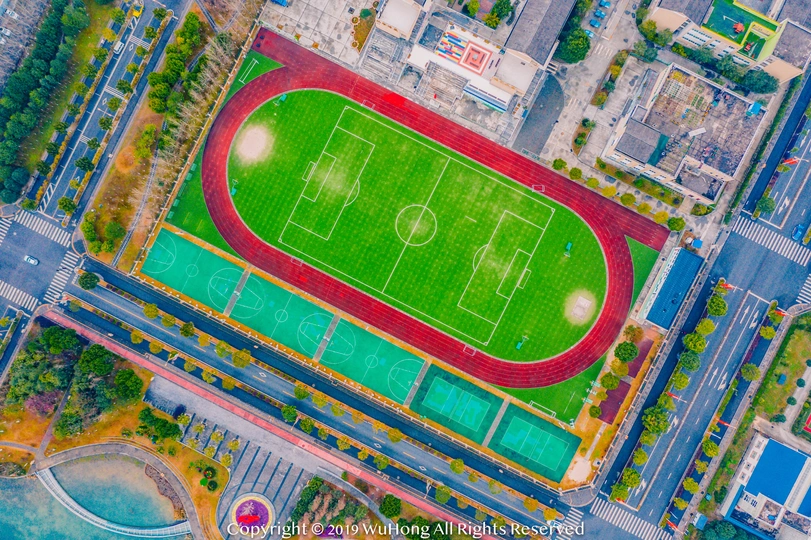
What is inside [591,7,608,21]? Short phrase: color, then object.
blue vehicle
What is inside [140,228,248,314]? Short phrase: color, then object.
green basketball court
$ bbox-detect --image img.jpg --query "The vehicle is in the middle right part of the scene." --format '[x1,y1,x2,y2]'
[791,226,804,241]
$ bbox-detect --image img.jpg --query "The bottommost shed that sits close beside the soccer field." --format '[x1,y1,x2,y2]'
[636,247,704,331]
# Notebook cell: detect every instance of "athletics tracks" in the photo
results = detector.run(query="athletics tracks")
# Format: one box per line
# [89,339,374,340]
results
[198,27,671,390]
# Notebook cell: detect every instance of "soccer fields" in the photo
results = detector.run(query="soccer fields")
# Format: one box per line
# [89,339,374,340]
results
[227,89,606,361]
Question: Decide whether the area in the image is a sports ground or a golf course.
sports ground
